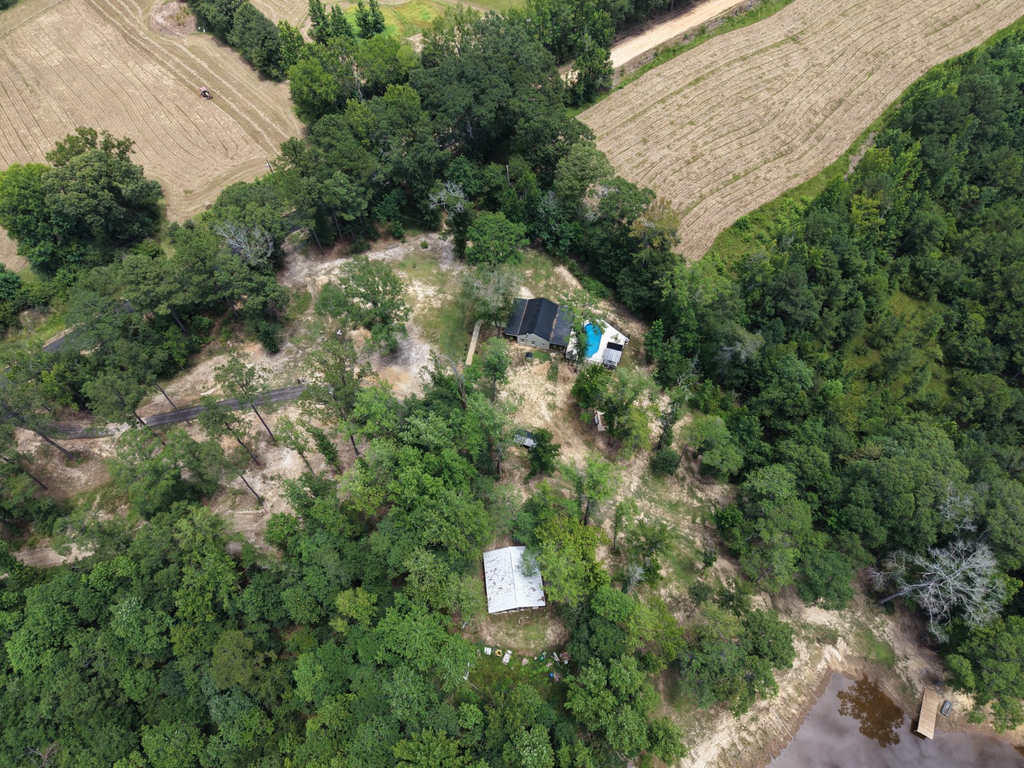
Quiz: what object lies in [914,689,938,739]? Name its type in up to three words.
pier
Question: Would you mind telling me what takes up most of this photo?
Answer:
trees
